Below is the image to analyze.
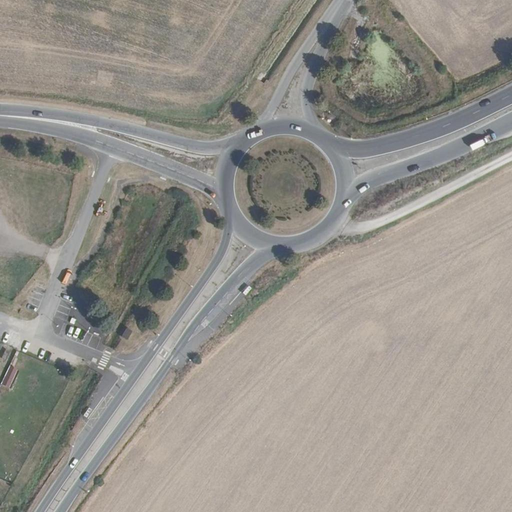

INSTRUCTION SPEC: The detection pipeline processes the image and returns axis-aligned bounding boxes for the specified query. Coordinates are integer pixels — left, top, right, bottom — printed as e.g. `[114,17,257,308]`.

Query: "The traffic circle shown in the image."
[215,116,356,256]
